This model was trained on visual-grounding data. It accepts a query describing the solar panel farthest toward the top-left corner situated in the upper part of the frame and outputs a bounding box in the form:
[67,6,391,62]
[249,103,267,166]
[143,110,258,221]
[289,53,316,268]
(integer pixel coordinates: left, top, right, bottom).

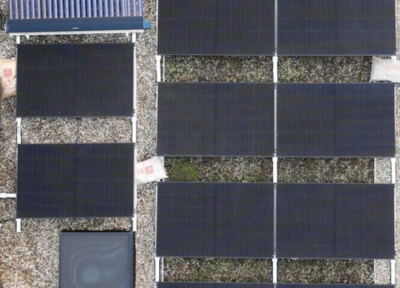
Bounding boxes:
[16,43,133,116]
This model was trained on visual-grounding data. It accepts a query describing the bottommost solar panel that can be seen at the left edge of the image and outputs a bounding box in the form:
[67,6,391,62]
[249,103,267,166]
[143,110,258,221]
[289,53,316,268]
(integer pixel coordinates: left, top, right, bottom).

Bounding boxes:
[17,143,134,217]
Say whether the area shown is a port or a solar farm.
solar farm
